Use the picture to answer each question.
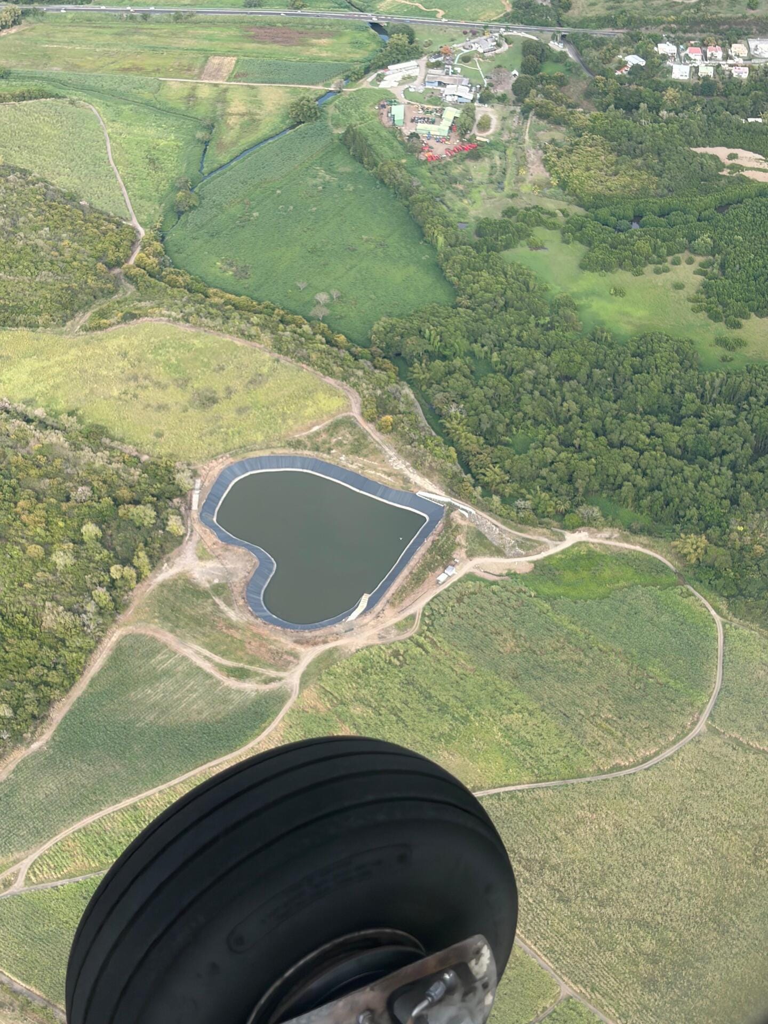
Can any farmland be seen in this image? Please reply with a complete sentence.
Yes, some farmland is visible.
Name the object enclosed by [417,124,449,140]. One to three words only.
shed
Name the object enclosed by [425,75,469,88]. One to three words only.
building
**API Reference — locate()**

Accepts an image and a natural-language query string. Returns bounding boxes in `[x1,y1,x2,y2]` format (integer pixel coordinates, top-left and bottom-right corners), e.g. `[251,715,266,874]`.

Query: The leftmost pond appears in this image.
[198,455,447,631]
